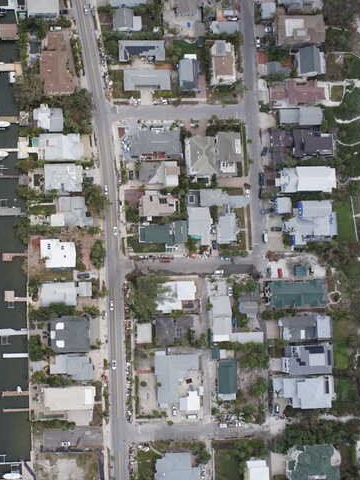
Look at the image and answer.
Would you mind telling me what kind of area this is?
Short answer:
residential area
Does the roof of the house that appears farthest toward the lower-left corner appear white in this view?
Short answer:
Yes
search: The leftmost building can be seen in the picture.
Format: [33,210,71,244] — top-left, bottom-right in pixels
[0,24,20,43]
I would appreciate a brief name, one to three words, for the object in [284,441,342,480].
house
